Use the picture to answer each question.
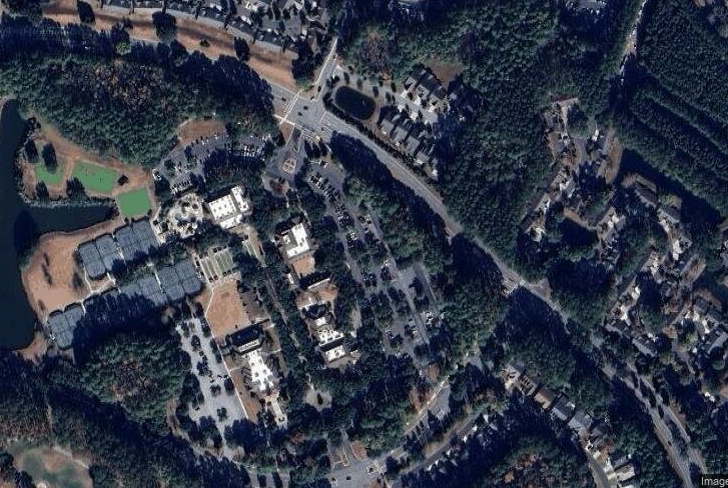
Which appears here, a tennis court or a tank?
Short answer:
tennis court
